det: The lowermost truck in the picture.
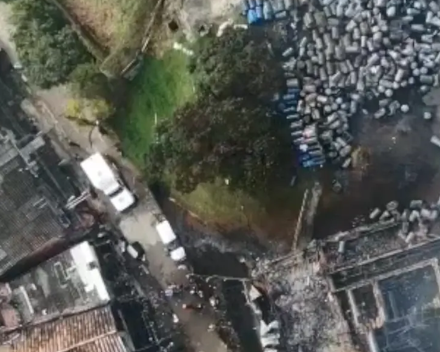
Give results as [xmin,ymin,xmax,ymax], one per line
[148,217,186,265]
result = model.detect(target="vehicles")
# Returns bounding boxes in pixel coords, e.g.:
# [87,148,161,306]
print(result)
[70,151,133,213]
[148,217,186,265]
